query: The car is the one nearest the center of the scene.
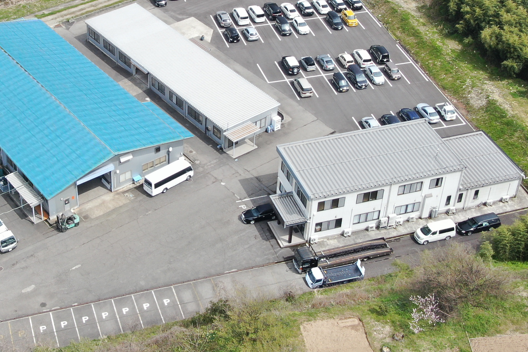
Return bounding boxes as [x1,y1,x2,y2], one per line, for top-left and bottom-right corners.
[237,205,277,226]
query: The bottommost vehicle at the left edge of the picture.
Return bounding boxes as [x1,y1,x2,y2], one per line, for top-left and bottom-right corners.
[0,224,18,251]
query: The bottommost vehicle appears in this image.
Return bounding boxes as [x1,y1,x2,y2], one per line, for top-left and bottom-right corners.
[305,263,370,291]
